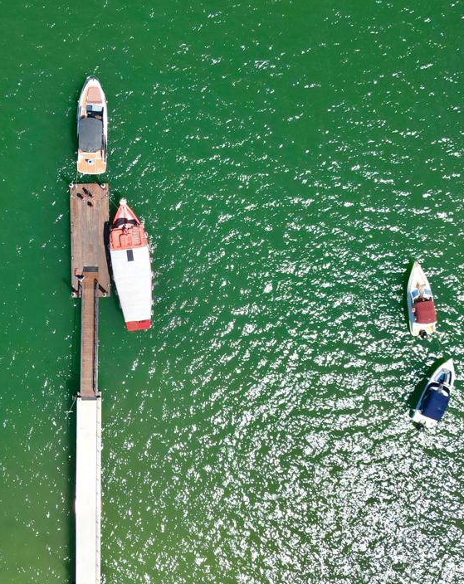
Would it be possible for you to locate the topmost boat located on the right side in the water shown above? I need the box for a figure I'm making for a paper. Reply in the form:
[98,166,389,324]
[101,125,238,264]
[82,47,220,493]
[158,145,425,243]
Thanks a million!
[407,262,437,339]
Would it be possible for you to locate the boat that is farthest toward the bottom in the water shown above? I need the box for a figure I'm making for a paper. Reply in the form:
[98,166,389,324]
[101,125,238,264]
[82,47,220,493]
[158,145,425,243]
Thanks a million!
[414,358,456,428]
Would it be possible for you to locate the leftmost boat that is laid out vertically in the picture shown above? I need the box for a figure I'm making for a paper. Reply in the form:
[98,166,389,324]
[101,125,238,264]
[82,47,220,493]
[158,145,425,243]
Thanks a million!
[74,75,110,174]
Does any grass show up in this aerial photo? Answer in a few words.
No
